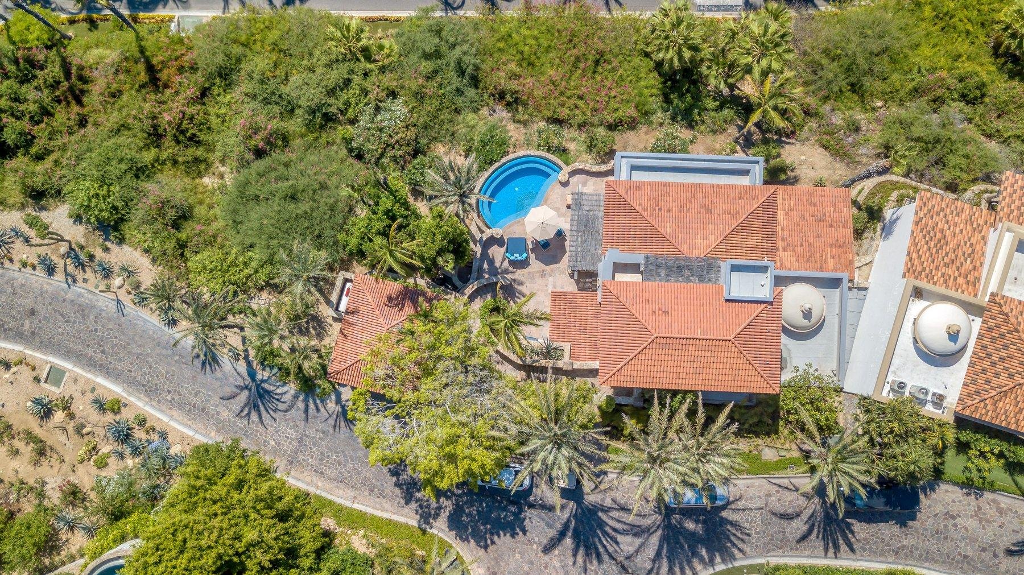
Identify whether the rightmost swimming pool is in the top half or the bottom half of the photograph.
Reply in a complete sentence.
It is in the top half that the rightmost swimming pool appears.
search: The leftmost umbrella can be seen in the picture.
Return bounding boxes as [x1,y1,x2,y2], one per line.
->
[525,205,560,241]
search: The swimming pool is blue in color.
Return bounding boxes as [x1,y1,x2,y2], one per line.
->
[481,157,562,229]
